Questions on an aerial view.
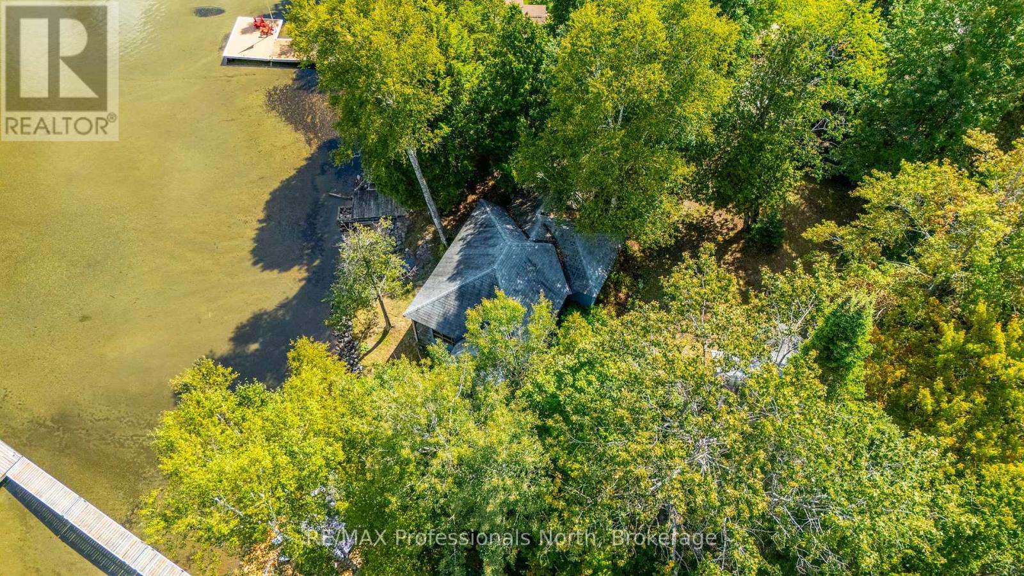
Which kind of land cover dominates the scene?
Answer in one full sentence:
The bulk of the photo consists of trees.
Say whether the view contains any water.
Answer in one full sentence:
Yes, water shows up in the scene.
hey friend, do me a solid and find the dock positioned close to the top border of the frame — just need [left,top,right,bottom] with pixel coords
[211,14,318,71]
